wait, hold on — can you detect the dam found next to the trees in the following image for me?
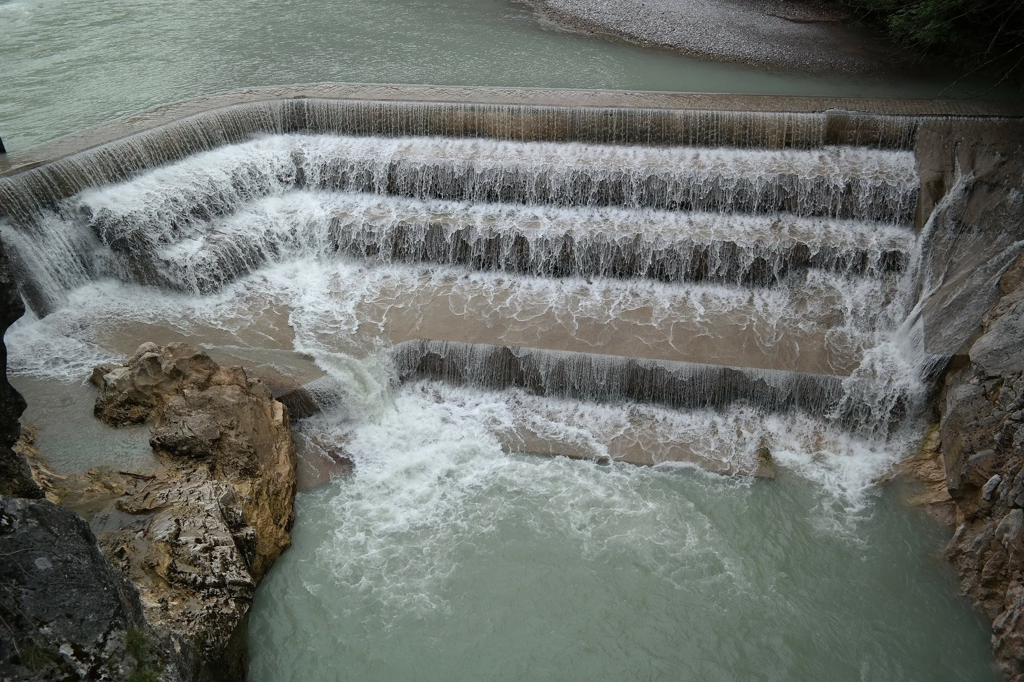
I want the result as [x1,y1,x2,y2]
[0,83,1024,483]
